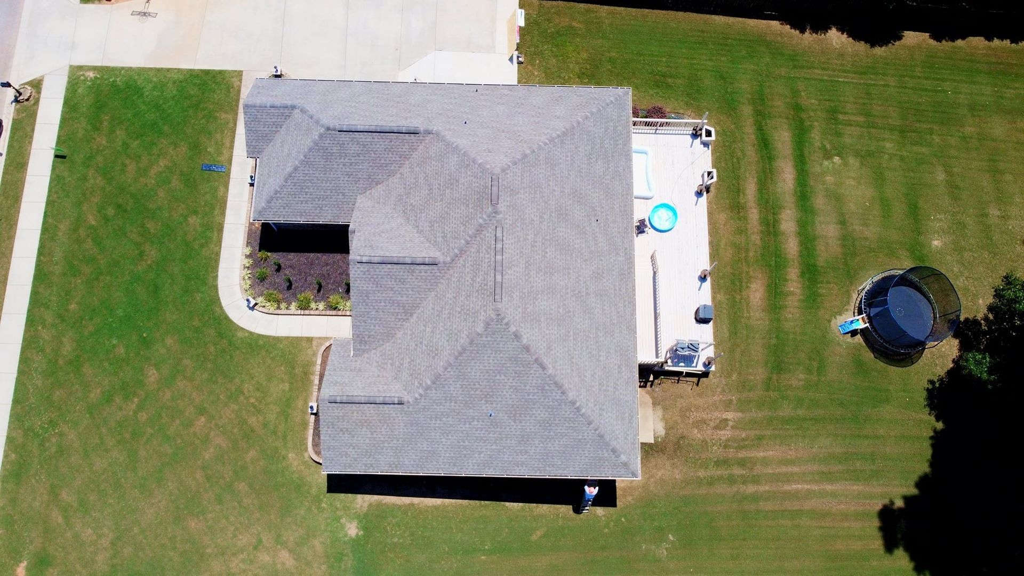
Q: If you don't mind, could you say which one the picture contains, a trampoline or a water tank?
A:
trampoline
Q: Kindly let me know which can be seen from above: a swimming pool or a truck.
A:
swimming pool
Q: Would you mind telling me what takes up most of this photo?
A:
grass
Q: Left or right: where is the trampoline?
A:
right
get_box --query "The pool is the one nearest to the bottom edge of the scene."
[649,203,678,232]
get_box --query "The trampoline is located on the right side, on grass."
[851,264,964,356]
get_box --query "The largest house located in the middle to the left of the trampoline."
[240,77,642,483]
